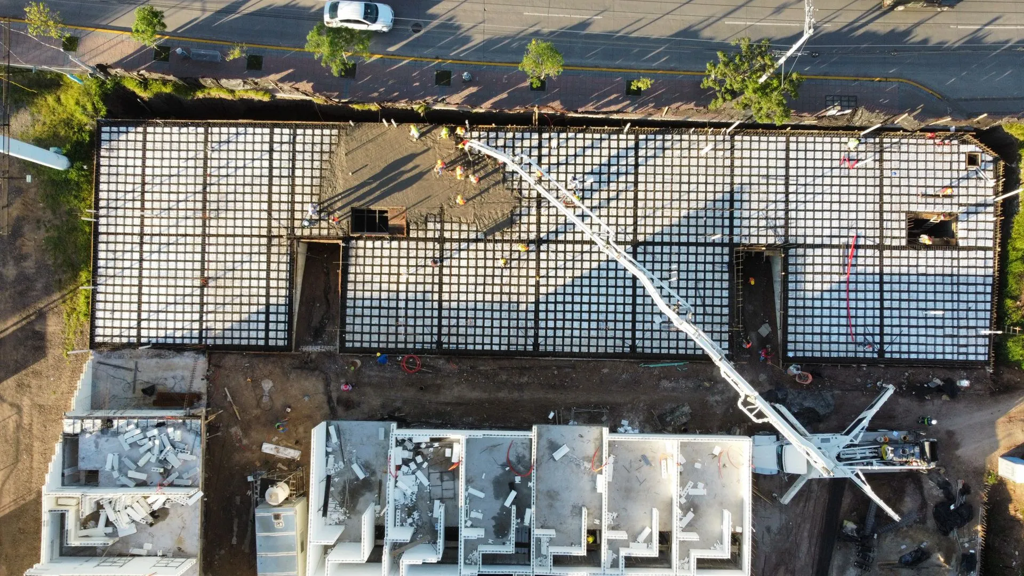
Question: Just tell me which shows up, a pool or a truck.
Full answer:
This aerial view contains a truck.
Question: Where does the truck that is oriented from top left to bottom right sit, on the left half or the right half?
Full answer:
It is on the right.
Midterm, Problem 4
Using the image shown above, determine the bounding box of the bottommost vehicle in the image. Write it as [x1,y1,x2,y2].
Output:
[460,138,941,520]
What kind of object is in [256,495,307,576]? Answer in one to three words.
building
